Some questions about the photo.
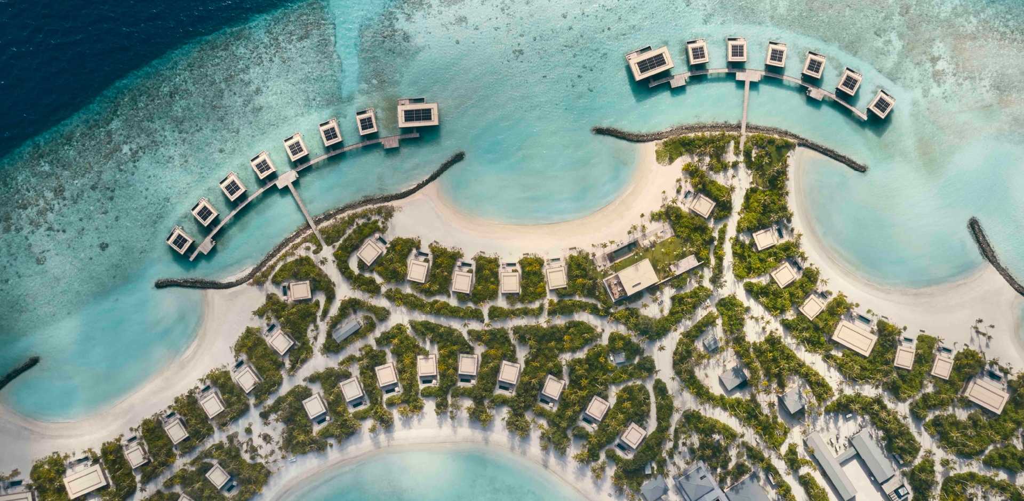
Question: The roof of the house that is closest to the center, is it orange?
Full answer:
No, the roof of the house that is closest to the center is white.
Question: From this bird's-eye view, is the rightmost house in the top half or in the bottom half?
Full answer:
You can find the rightmost house in the bottom half.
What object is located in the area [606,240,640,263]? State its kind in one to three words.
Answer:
swimming pool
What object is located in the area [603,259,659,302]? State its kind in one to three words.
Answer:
building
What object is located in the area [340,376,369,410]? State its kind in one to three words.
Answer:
house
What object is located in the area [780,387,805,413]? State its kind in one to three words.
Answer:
shed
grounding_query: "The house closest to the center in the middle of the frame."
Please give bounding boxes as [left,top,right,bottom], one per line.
[500,261,521,293]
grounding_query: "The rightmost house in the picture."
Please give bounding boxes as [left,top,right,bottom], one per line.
[961,368,1011,414]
